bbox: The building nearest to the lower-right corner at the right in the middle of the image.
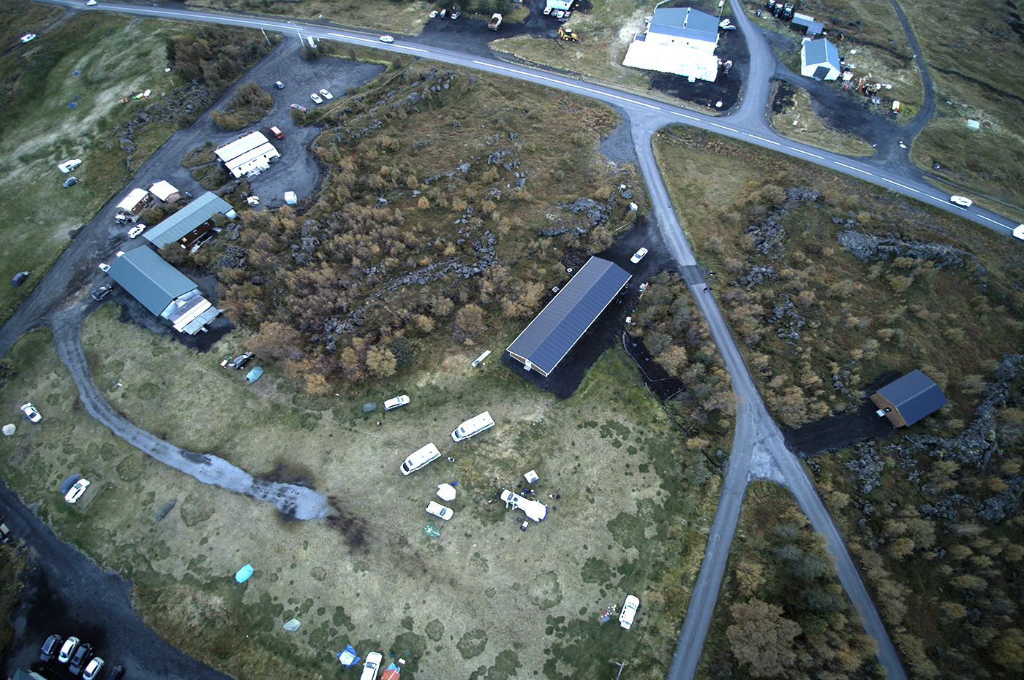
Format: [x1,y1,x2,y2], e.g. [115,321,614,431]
[874,369,950,430]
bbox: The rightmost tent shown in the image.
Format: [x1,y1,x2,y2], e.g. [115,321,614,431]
[522,497,548,523]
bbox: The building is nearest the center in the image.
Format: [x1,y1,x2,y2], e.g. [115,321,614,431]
[506,256,631,381]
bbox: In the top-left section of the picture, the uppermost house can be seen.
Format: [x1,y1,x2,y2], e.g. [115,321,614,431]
[214,130,284,179]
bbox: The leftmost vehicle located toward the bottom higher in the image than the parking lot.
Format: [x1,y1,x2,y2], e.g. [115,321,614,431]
[15,394,43,426]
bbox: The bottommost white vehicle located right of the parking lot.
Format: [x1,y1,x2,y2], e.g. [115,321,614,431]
[361,652,381,680]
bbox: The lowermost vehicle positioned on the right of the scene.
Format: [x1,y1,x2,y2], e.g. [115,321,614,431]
[619,592,640,631]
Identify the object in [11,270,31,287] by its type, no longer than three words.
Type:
car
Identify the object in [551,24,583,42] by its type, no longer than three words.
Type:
work vehicle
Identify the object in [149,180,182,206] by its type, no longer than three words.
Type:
shed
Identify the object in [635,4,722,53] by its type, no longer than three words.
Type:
barn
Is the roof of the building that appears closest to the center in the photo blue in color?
Yes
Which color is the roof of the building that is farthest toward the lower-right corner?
blue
